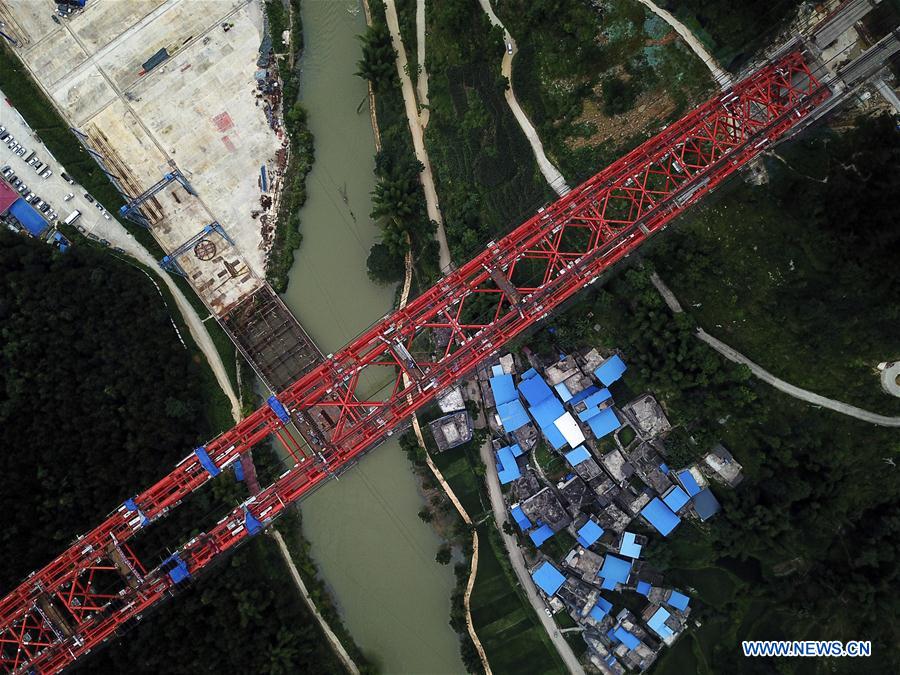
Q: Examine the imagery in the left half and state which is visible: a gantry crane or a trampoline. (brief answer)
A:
gantry crane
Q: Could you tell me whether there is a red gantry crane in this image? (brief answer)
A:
No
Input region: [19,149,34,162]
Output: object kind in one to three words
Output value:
vehicle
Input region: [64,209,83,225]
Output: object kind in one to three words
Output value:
vehicle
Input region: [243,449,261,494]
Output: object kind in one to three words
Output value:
shed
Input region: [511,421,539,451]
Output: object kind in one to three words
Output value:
house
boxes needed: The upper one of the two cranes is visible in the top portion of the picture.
[119,168,209,233]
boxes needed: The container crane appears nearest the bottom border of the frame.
[156,221,245,283]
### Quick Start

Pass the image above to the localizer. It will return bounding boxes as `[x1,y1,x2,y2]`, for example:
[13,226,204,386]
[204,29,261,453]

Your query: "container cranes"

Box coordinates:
[156,221,245,283]
[119,168,209,233]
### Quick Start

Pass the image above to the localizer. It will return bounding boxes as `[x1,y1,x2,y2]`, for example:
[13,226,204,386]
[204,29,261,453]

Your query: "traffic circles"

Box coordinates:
[877,361,900,399]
